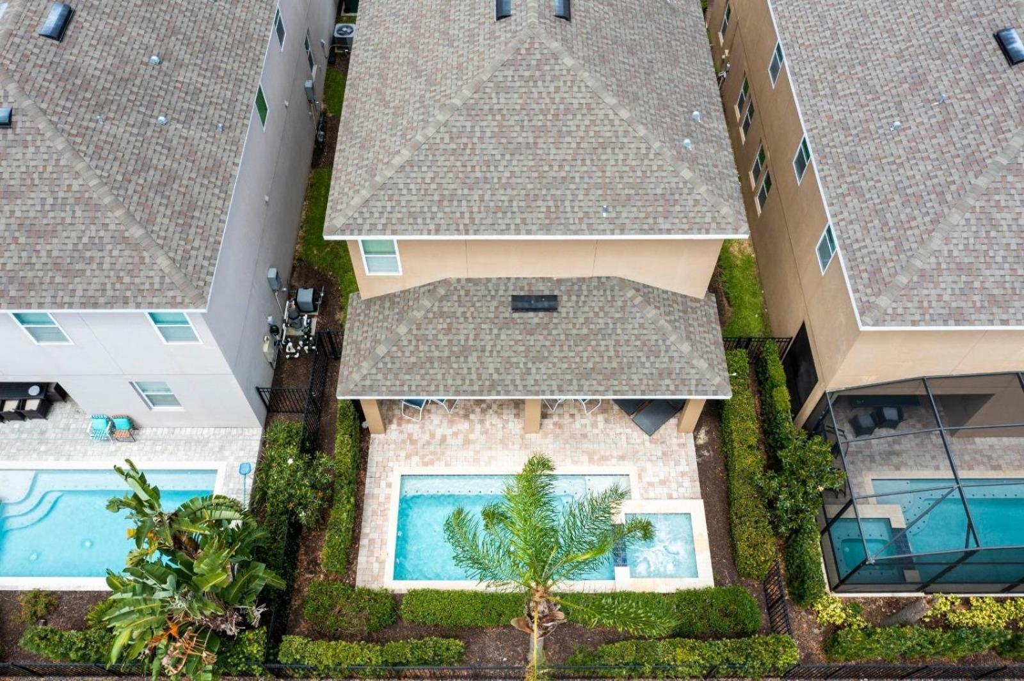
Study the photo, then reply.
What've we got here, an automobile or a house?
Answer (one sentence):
Of the two, only a house appears.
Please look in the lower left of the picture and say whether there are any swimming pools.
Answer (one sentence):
Yes, a swimming pool appears in the lower left of the picture.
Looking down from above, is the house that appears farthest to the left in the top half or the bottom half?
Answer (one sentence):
The house that appears farthest to the left is in the top half of the image.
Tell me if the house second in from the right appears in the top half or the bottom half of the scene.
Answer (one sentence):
The house second in from the right sits in the top half of the picture.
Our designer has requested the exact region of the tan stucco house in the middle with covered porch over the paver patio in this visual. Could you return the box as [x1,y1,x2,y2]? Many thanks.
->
[318,0,751,434]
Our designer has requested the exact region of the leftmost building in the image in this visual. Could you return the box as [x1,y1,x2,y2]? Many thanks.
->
[0,0,340,427]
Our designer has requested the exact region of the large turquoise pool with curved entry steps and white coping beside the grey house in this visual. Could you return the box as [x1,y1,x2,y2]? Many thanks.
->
[0,461,230,589]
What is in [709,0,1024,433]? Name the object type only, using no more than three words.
house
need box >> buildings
[318,0,751,434]
[0,0,340,427]
[709,0,1024,433]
